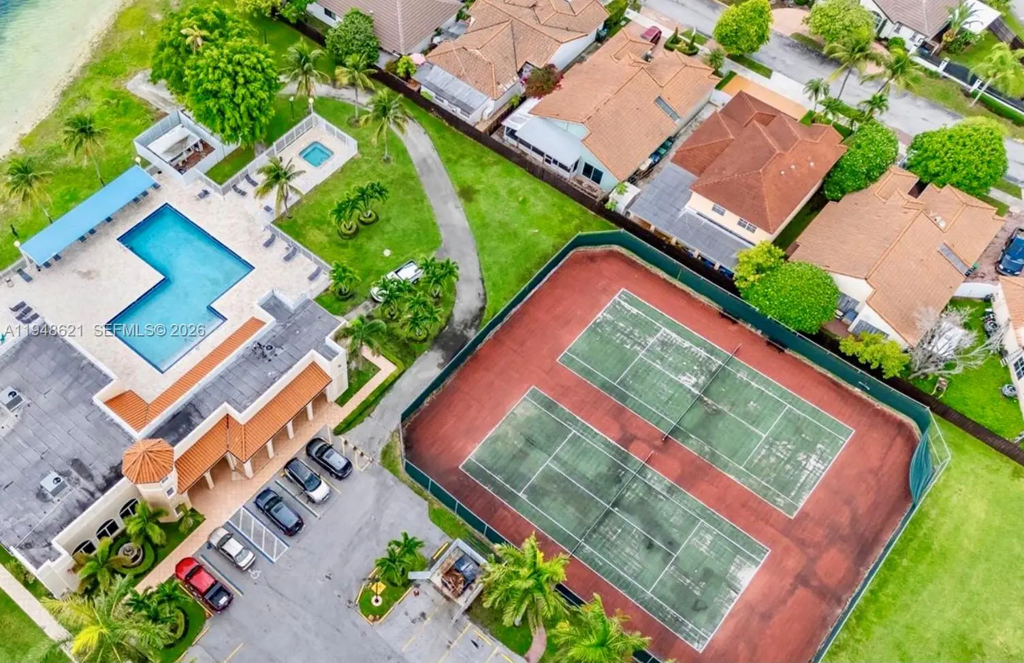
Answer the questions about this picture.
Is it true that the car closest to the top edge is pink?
Yes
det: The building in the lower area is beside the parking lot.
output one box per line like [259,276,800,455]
[0,292,349,600]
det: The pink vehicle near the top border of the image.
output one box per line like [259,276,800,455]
[637,22,668,51]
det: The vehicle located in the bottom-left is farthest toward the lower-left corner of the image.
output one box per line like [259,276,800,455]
[172,553,239,618]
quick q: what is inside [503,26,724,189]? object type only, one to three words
house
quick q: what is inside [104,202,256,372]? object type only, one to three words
swimming pool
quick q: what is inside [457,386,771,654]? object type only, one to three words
tennis court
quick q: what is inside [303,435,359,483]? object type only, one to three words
car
